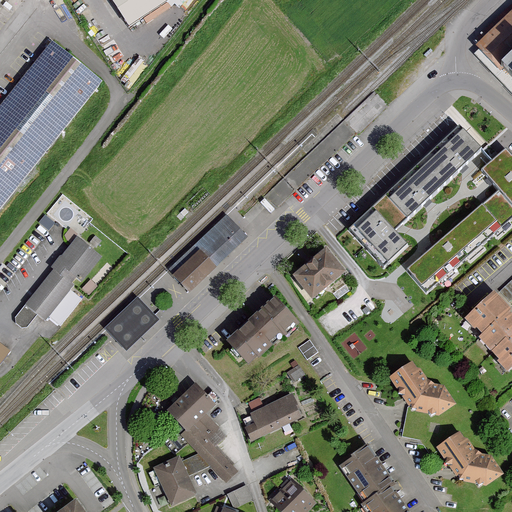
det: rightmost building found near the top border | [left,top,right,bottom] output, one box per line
[476,9,512,76]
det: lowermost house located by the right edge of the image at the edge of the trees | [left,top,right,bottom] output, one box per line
[438,432,504,486]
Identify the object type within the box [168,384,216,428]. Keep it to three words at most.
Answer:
house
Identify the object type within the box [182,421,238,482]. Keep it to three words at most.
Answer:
barn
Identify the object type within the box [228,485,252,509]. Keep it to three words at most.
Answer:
building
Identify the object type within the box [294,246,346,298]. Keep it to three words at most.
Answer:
house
